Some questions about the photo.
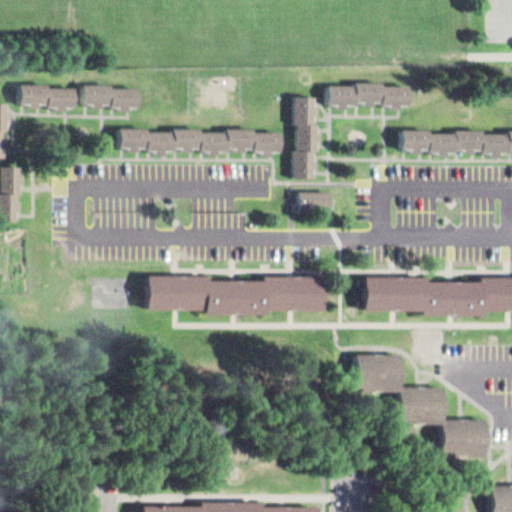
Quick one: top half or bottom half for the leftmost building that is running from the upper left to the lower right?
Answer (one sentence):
Seen from above, the leftmost building that is running from the upper left to the lower right lies in the bottom half of the view.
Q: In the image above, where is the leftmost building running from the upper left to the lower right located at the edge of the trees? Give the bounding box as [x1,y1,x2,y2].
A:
[354,354,489,456]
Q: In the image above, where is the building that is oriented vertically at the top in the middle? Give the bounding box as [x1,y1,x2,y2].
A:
[294,96,319,180]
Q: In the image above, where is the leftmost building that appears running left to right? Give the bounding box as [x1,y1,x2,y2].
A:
[20,85,78,112]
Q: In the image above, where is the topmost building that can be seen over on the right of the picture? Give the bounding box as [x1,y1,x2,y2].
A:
[326,84,412,110]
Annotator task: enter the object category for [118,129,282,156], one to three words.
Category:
building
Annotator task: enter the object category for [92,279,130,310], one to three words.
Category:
basketball court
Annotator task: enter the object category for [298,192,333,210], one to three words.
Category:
house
